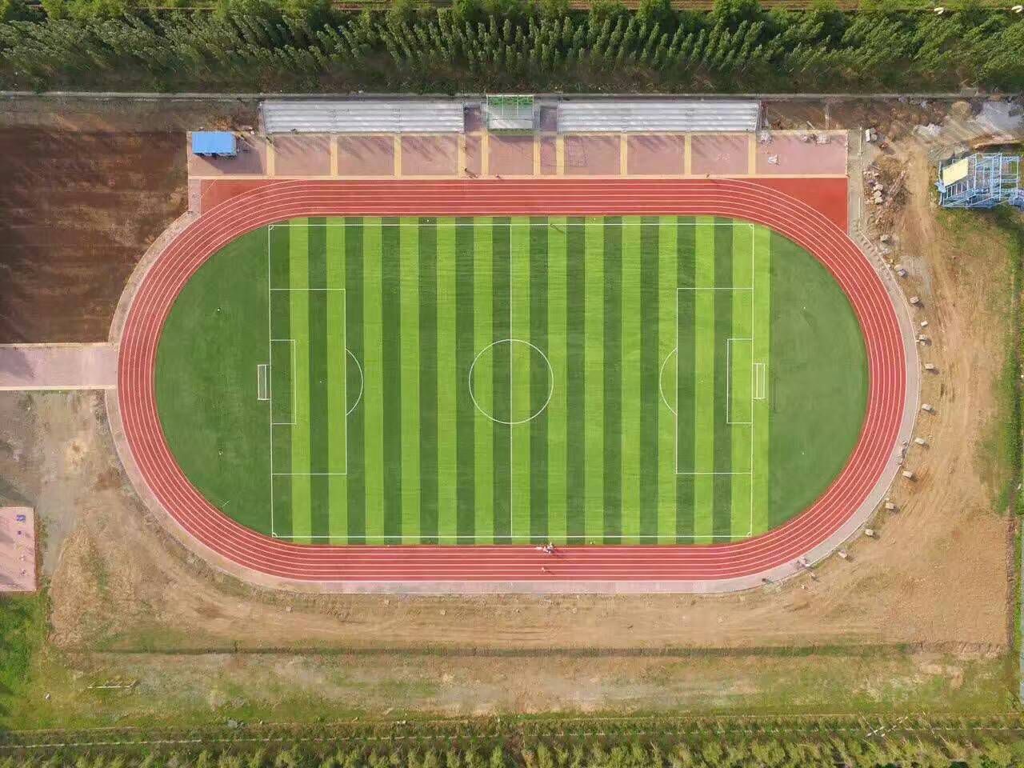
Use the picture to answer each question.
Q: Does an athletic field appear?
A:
Yes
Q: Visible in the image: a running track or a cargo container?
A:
running track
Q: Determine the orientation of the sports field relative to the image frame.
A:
from side to side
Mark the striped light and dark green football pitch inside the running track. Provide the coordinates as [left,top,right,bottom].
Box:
[154,215,869,545]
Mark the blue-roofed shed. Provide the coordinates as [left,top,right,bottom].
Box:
[192,132,240,156]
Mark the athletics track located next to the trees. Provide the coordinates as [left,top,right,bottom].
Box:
[117,178,906,581]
